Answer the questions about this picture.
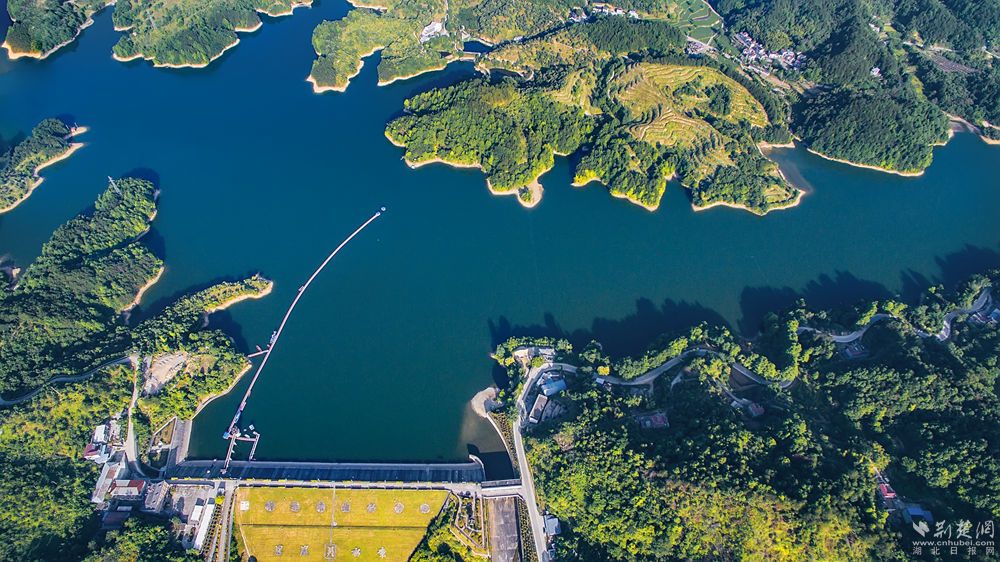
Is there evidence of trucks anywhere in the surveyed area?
No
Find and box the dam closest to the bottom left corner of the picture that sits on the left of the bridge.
[169,460,484,562]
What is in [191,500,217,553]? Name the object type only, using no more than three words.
shed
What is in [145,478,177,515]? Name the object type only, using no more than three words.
building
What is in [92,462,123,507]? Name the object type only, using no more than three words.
building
